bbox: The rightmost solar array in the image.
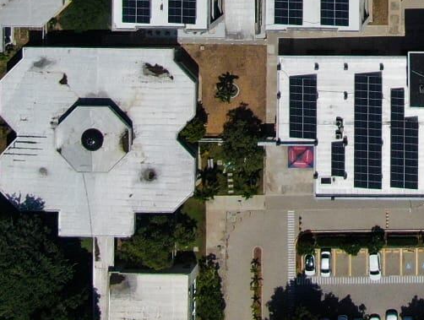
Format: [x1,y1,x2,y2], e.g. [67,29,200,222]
[390,88,417,189]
